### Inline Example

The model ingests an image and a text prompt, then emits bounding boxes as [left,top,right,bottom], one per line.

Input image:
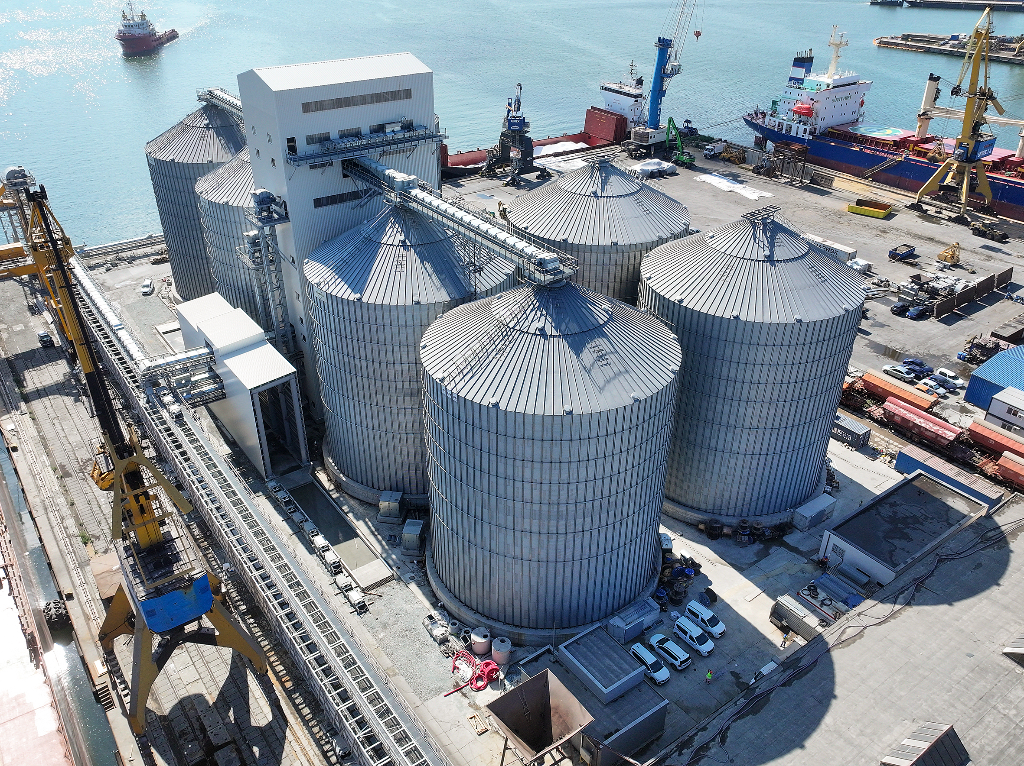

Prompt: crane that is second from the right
[609,0,701,159]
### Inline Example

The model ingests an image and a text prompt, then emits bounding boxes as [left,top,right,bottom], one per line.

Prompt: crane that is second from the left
[466,80,549,185]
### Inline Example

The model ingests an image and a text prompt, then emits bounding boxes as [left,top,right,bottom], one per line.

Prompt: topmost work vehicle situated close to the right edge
[968,211,1012,237]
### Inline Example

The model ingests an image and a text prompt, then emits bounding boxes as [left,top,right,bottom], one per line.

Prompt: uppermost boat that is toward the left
[105,0,179,58]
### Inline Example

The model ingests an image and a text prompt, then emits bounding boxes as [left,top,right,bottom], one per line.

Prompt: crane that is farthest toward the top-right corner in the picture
[909,0,1017,217]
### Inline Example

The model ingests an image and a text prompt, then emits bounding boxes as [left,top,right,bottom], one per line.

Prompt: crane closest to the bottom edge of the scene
[12,183,278,760]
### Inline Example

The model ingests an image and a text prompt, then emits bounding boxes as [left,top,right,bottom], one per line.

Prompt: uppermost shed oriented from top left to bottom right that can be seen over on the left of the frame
[171,296,315,480]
